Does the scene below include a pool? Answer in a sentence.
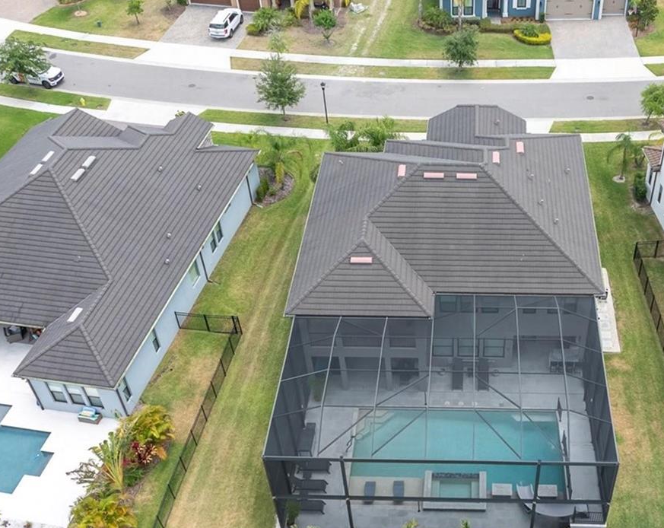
Yes, a pool is visible in the scene.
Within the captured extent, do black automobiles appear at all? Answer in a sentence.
No, no black automobile is visible in the view.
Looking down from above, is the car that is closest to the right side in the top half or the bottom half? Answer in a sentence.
You can find the car that is closest to the right side in the top half.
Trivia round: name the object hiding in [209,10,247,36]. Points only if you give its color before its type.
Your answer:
white car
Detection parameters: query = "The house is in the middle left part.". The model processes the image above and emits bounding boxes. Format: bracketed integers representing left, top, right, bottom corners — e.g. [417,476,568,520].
[0,101,271,420]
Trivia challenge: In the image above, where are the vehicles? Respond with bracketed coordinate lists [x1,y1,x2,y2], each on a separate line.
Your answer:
[209,10,247,36]
[0,63,68,90]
